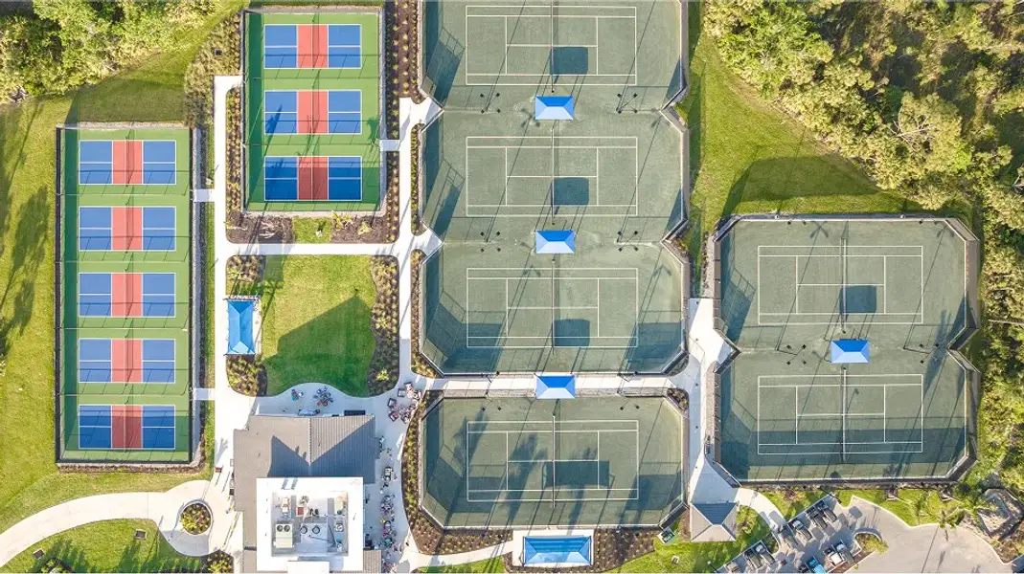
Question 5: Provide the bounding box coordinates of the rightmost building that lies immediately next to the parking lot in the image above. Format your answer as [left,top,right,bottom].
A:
[686,499,737,543]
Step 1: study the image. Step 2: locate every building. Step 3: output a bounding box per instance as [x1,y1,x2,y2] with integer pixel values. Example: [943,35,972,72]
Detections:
[686,499,737,543]
[234,414,382,574]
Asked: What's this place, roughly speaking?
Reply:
sports ground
